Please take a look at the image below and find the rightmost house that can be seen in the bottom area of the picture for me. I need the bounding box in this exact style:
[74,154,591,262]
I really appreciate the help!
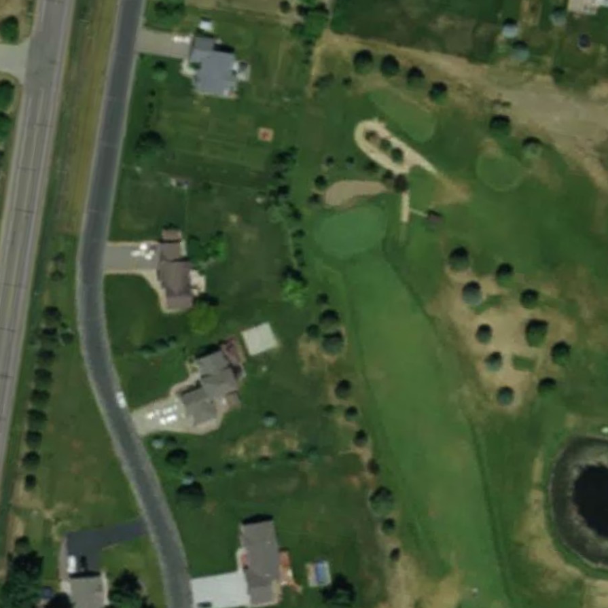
[240,521,292,607]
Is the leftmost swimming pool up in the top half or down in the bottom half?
bottom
